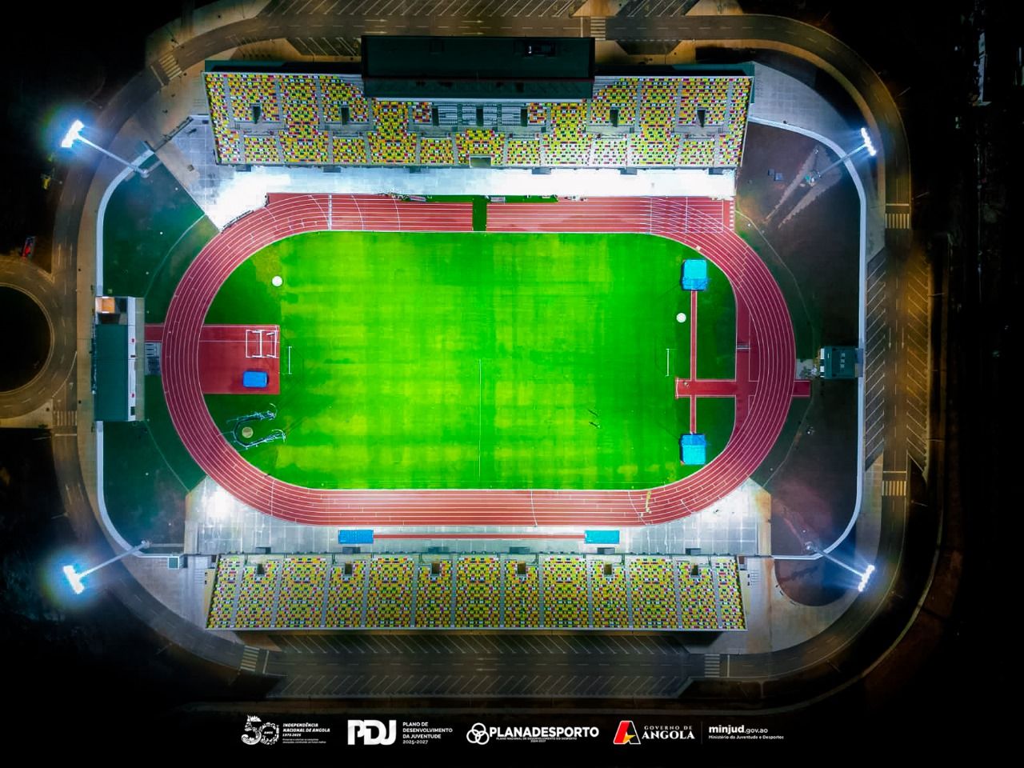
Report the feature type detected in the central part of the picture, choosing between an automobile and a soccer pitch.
soccer pitch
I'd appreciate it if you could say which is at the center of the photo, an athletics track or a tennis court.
athletics track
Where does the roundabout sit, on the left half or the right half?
left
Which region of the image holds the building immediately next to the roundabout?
left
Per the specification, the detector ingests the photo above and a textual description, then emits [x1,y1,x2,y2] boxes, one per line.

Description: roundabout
[0,257,76,418]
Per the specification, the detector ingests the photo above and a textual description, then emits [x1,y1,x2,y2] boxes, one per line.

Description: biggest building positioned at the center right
[818,346,859,379]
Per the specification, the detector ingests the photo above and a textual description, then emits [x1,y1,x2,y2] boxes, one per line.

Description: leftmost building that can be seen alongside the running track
[93,298,144,421]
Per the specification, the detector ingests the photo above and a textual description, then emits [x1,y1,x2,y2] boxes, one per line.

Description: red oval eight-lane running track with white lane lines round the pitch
[162,194,795,526]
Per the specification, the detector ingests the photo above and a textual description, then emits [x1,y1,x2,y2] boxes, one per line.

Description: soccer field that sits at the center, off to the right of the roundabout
[204,231,736,489]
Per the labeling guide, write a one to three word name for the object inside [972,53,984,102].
shed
